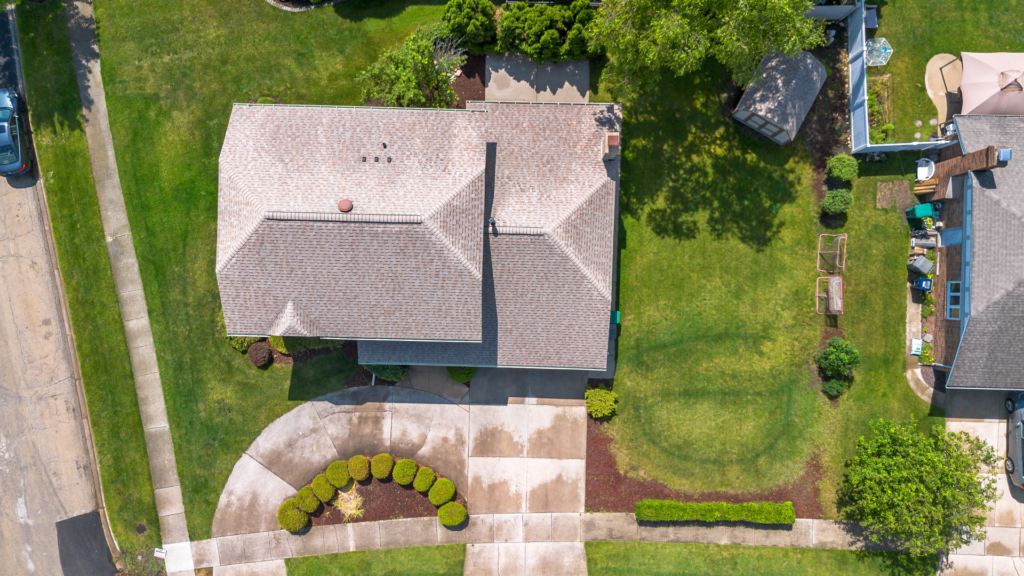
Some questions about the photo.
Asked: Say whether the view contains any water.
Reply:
No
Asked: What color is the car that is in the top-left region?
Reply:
blue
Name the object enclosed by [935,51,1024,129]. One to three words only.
gazebo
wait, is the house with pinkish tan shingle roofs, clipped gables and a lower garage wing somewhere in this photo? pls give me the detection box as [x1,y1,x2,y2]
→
[215,98,620,387]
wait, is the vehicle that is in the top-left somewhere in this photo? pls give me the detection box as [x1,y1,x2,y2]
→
[0,85,38,179]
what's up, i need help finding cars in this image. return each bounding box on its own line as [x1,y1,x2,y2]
[1003,393,1024,490]
[0,85,38,179]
